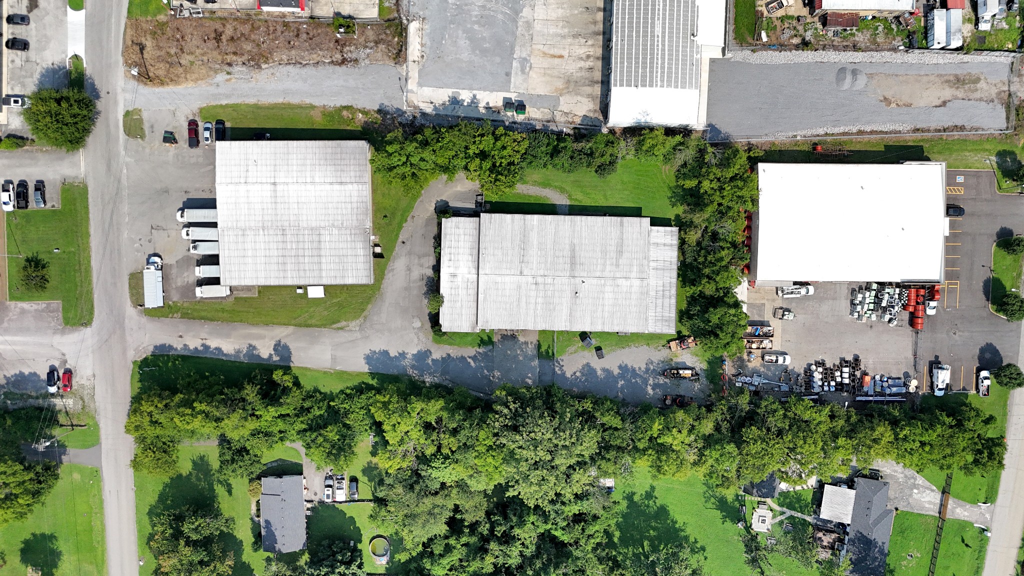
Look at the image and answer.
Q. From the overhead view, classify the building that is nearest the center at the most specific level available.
warehouse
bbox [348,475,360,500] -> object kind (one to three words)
vehicle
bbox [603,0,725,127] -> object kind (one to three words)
shed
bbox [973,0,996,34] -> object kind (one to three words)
truck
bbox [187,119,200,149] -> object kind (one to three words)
vehicle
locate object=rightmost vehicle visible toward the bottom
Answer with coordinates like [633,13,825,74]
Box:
[977,369,991,398]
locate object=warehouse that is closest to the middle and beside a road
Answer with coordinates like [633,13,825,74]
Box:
[440,213,679,335]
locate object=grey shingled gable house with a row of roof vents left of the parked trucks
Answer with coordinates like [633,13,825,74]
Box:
[261,476,308,552]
